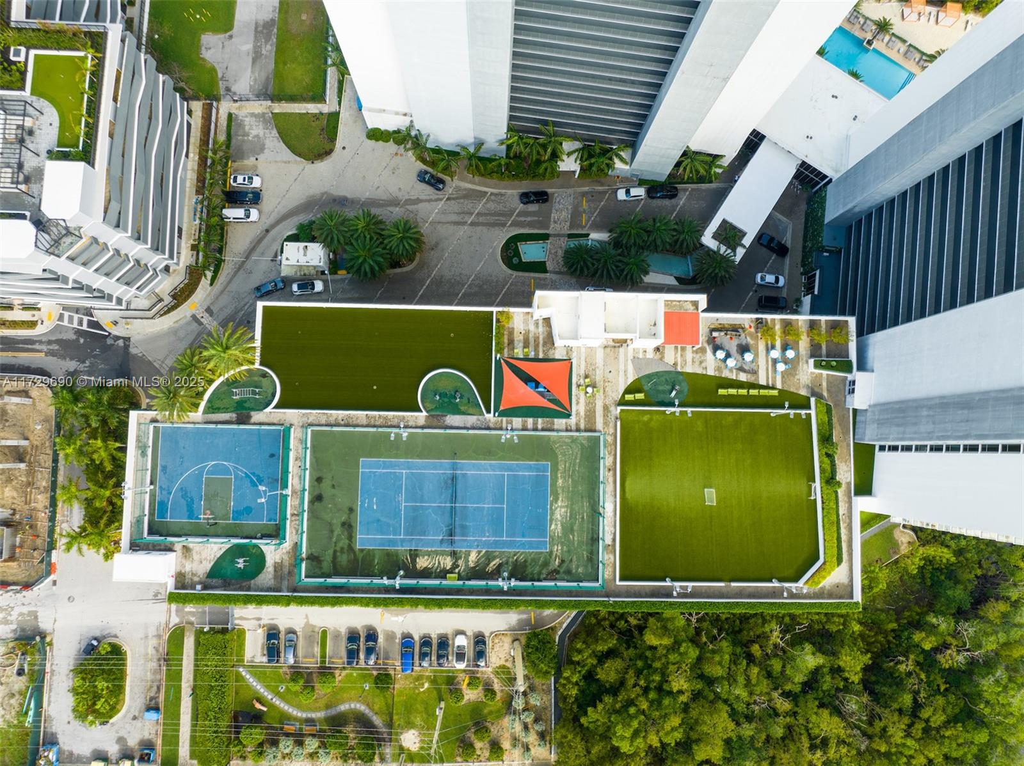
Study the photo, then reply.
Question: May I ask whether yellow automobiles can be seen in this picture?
No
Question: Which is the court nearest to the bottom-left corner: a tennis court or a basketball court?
basketball court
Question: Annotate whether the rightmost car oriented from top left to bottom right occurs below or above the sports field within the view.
above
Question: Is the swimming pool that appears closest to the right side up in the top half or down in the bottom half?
top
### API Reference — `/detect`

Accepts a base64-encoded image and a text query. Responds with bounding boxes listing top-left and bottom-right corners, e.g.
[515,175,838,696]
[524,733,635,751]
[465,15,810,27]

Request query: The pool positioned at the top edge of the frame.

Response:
[822,26,917,99]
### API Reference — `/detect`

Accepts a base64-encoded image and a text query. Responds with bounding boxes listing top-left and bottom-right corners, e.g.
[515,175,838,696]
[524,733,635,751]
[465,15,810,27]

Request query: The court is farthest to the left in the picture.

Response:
[147,427,281,541]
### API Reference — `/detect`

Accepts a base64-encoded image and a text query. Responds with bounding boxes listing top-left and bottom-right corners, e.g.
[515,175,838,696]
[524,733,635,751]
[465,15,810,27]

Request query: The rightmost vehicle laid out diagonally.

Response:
[758,233,787,256]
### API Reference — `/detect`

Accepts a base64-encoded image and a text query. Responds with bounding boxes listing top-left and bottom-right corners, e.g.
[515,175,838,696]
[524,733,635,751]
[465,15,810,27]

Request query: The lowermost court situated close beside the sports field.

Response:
[305,431,600,580]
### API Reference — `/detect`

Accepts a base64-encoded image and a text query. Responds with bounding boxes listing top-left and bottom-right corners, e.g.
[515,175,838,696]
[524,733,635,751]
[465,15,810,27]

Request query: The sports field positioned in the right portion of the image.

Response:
[617,397,826,587]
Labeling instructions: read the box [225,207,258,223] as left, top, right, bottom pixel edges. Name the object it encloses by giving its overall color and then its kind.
white car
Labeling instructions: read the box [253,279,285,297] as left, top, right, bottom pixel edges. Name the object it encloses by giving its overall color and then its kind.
blue car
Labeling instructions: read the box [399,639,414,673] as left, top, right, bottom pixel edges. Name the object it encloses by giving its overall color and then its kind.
blue car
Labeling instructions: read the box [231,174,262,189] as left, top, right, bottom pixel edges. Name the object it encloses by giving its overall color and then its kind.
white car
